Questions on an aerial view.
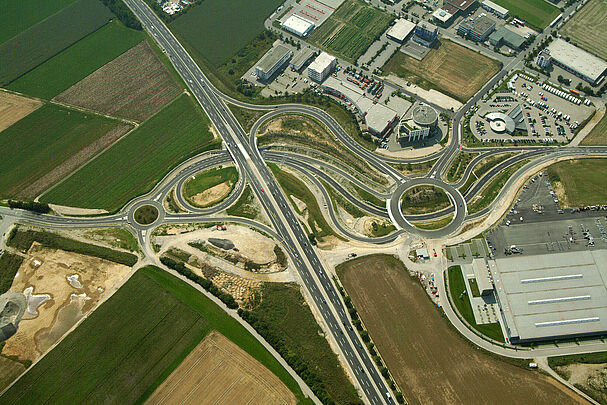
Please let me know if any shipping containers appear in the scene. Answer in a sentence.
No, no shipping container is visible in the scene.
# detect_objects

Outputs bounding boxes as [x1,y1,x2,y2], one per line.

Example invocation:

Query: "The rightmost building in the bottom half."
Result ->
[493,249,607,342]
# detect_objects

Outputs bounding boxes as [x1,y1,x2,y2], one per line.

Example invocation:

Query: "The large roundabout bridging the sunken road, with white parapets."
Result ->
[388,177,469,239]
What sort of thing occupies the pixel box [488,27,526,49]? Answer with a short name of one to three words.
building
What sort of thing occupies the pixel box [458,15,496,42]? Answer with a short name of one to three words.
building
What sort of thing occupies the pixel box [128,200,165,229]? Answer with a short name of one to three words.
roundabout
